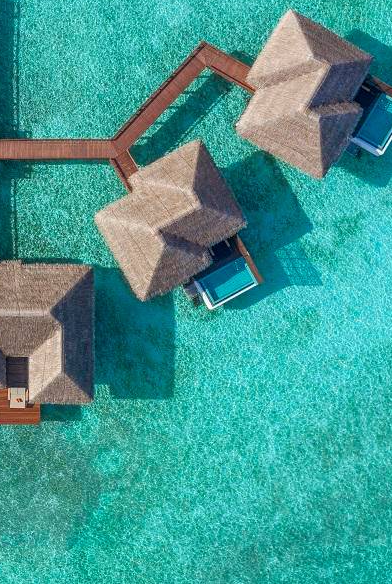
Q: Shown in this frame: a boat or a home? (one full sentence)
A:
I can see a home in this picture.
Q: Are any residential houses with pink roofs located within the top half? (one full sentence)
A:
No, no residential house with a pink roof is visible within the top half.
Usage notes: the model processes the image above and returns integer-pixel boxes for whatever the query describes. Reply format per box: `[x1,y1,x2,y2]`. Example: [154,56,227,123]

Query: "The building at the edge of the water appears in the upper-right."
[237,9,373,178]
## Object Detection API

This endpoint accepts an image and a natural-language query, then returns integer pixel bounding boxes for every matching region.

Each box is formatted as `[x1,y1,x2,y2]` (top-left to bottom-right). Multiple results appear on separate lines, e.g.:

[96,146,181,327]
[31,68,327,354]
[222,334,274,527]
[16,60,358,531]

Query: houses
[94,140,247,301]
[0,262,96,405]
[237,9,373,178]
